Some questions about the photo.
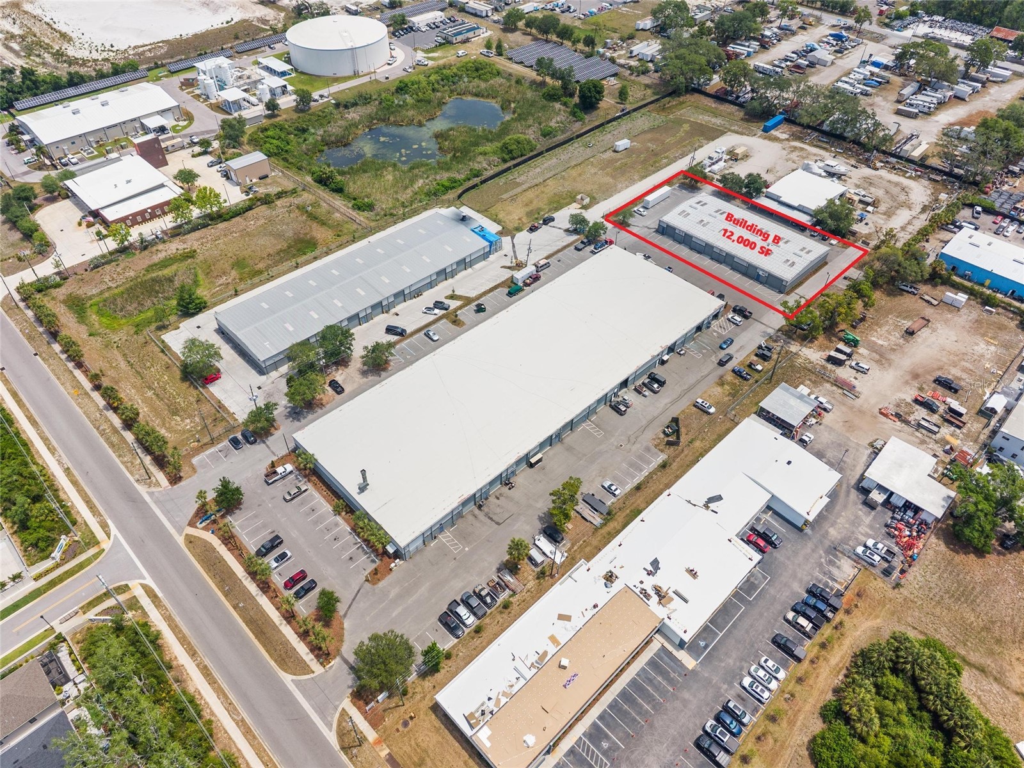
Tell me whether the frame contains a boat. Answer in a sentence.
Yes, looking at the shot, I can spot a boat.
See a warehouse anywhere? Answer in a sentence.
Yes, I can see a warehouse in this picture.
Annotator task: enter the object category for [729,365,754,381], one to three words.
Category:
vehicle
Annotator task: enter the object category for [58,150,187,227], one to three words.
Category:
building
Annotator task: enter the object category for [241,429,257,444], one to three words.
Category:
car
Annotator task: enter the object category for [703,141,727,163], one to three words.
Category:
boat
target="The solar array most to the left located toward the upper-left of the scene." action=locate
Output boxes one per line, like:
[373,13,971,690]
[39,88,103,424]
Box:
[12,67,150,111]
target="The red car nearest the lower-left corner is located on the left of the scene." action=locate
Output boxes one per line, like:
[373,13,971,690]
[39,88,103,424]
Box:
[282,569,308,591]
